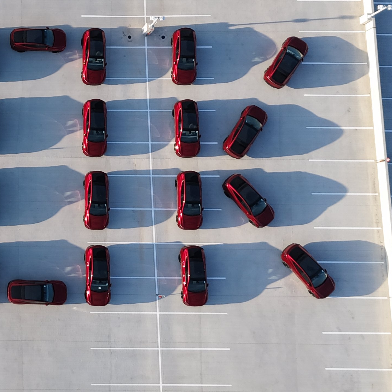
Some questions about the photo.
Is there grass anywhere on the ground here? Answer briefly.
No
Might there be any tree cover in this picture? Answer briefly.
No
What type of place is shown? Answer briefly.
parking lot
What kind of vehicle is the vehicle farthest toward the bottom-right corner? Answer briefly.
car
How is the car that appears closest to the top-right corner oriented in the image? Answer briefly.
on a diagonal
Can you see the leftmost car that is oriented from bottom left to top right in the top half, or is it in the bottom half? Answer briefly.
top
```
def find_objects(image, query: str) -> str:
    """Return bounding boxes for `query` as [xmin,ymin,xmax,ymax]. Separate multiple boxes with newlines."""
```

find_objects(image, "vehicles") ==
[8,279,67,307]
[179,246,210,306]
[263,36,310,89]
[81,28,109,85]
[174,171,206,230]
[170,28,199,85]
[82,99,110,157]
[222,106,269,159]
[222,173,276,228]
[83,171,112,230]
[172,99,202,157]
[84,246,113,306]
[281,243,336,299]
[10,26,67,53]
